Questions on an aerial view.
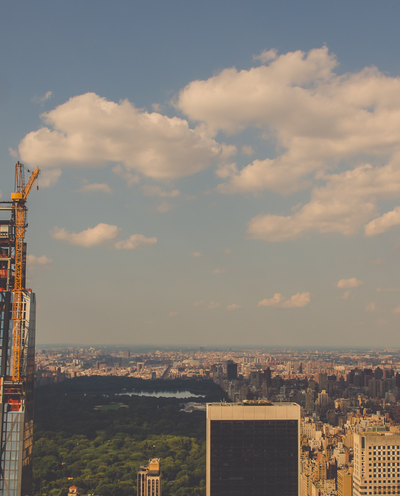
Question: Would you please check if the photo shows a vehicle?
No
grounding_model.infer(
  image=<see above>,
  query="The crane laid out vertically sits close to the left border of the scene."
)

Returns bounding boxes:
[11,162,40,382]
